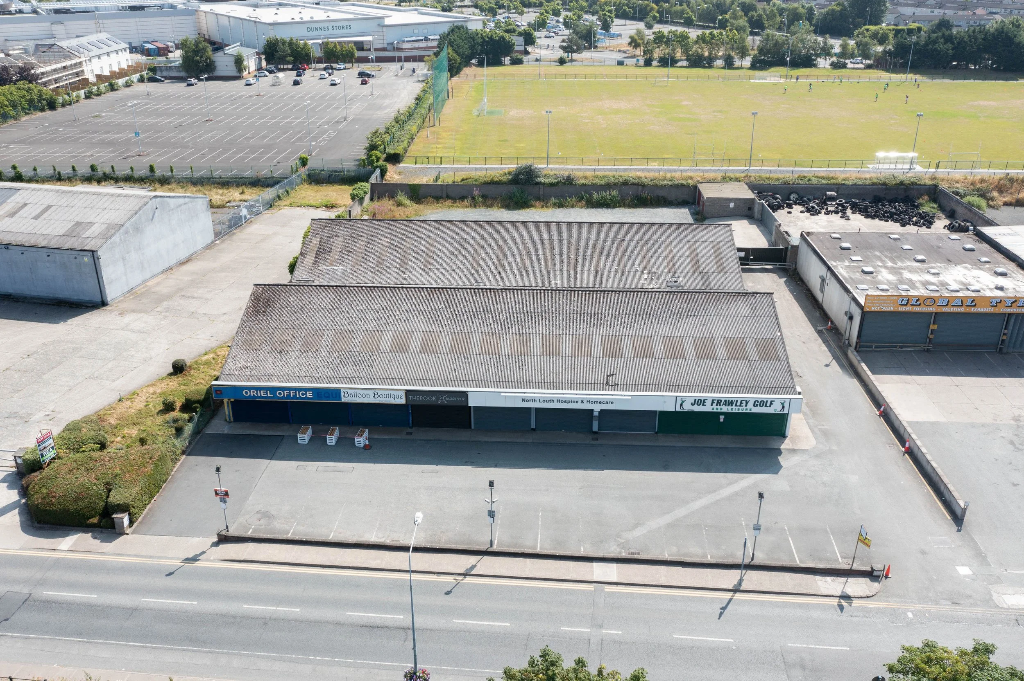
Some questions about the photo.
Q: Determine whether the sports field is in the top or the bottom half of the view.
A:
top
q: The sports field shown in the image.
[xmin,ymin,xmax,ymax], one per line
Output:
[357,64,1024,170]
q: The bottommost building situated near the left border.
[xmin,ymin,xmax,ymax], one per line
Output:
[0,184,214,305]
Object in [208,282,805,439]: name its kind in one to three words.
building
